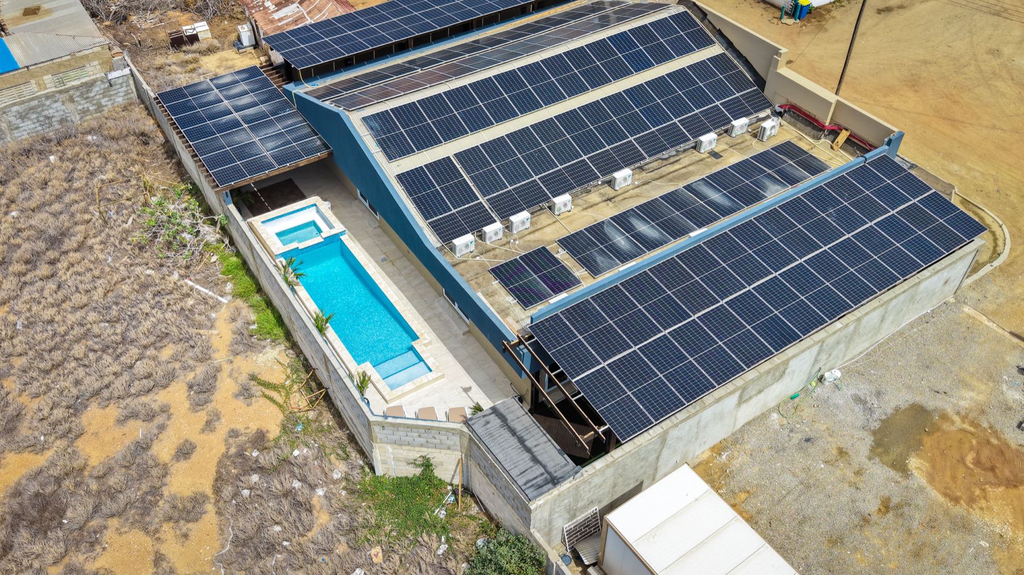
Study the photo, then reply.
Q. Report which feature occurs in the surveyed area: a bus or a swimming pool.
swimming pool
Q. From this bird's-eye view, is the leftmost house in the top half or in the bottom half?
top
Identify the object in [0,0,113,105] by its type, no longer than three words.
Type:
house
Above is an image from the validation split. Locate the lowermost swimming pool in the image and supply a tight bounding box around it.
[276,233,444,405]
